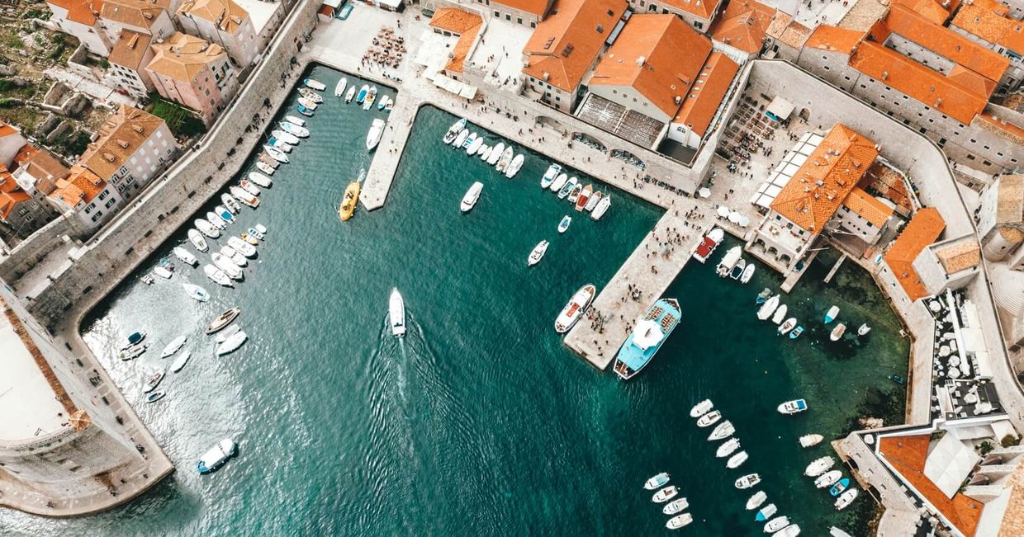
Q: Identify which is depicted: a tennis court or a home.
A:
home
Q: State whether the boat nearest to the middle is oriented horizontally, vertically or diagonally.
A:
diagonally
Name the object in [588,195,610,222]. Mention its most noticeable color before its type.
white boat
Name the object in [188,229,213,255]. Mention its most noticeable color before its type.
white boat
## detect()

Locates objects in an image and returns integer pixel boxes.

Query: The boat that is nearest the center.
[528,239,550,266]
